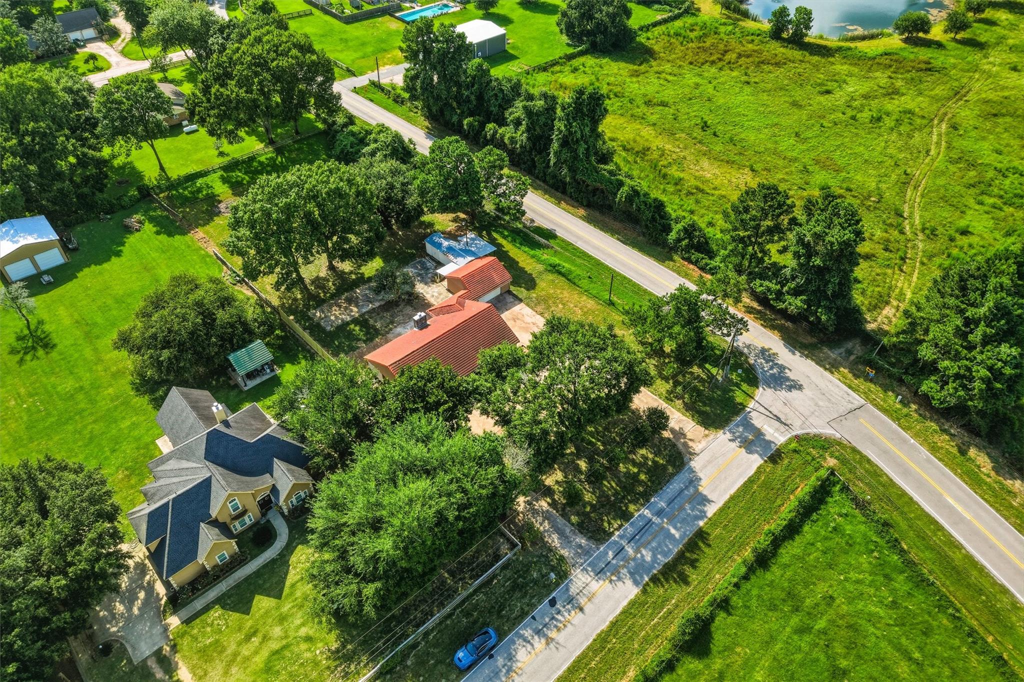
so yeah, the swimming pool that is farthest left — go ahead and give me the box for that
[395,0,470,25]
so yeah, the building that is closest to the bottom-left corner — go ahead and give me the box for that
[129,385,317,589]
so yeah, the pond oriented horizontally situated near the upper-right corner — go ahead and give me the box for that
[745,0,957,39]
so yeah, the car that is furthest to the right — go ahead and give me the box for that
[453,626,497,670]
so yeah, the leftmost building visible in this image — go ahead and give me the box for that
[0,217,65,281]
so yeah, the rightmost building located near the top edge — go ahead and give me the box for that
[450,17,511,56]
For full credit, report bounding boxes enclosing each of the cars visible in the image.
[453,626,497,670]
[72,35,85,45]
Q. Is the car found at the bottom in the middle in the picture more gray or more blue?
blue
